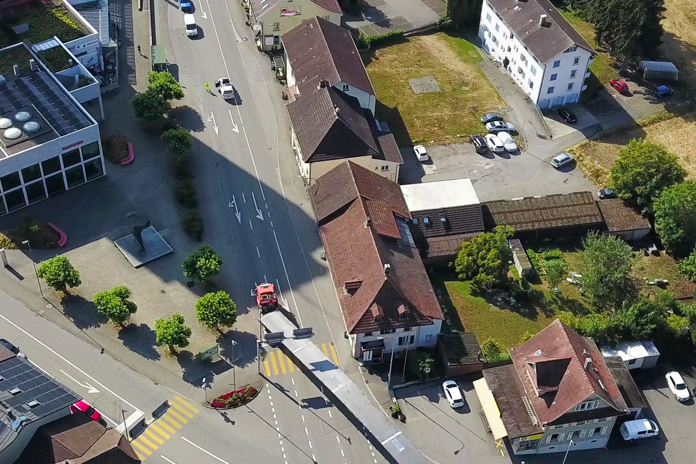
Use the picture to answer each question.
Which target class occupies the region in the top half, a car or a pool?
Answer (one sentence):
It is a car that can be seen in the top half.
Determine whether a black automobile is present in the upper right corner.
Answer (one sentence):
Yes, a black automobile shows up in the upper right corner.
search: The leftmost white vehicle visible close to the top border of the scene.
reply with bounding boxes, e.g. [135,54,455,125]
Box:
[184,12,198,35]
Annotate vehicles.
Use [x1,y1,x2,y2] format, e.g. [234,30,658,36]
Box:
[607,80,631,96]
[0,337,30,360]
[592,187,621,202]
[254,276,279,325]
[179,0,193,10]
[547,152,577,169]
[477,112,504,126]
[665,370,689,403]
[650,85,675,99]
[442,381,464,411]
[216,79,235,99]
[484,134,504,155]
[555,108,580,125]
[496,133,518,154]
[469,134,488,156]
[413,146,429,165]
[618,418,660,443]
[184,12,198,35]
[75,399,104,425]
[485,119,515,135]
